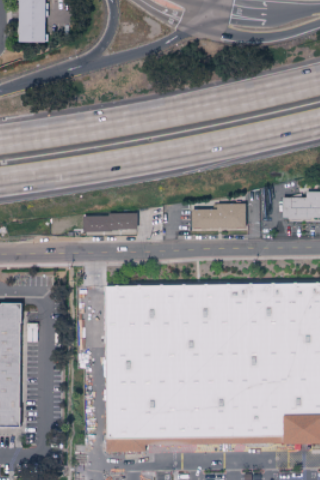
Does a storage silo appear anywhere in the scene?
No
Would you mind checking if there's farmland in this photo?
No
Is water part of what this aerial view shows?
No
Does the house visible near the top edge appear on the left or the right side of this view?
left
